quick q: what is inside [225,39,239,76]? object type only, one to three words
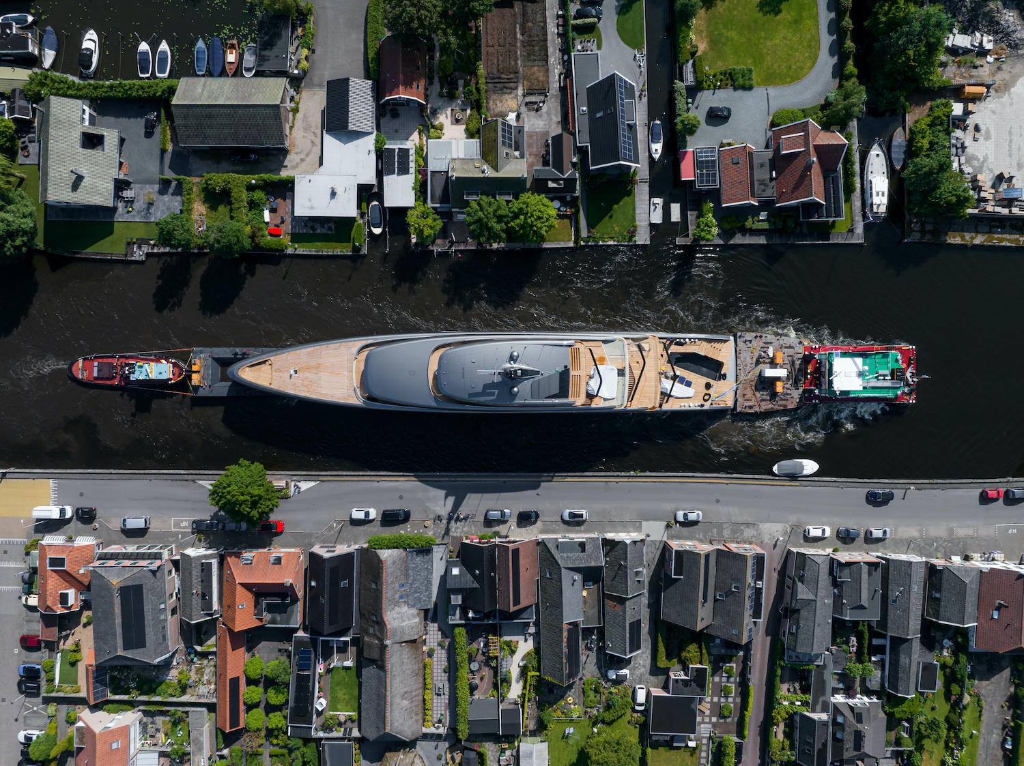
boat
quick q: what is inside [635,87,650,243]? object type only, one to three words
pier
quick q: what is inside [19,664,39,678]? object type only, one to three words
car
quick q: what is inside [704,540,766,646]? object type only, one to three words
house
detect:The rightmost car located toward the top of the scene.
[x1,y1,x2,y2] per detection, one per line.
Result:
[706,105,731,118]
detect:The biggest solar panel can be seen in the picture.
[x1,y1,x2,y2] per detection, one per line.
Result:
[121,585,146,650]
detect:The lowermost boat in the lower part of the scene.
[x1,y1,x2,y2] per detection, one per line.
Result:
[772,459,820,476]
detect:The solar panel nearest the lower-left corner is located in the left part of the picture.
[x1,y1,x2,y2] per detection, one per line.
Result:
[92,667,107,702]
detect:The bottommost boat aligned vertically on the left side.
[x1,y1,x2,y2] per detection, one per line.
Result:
[368,200,383,235]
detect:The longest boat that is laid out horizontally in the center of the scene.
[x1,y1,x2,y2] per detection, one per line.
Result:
[231,333,737,412]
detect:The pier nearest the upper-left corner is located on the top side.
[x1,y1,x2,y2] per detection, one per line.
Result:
[130,244,178,260]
